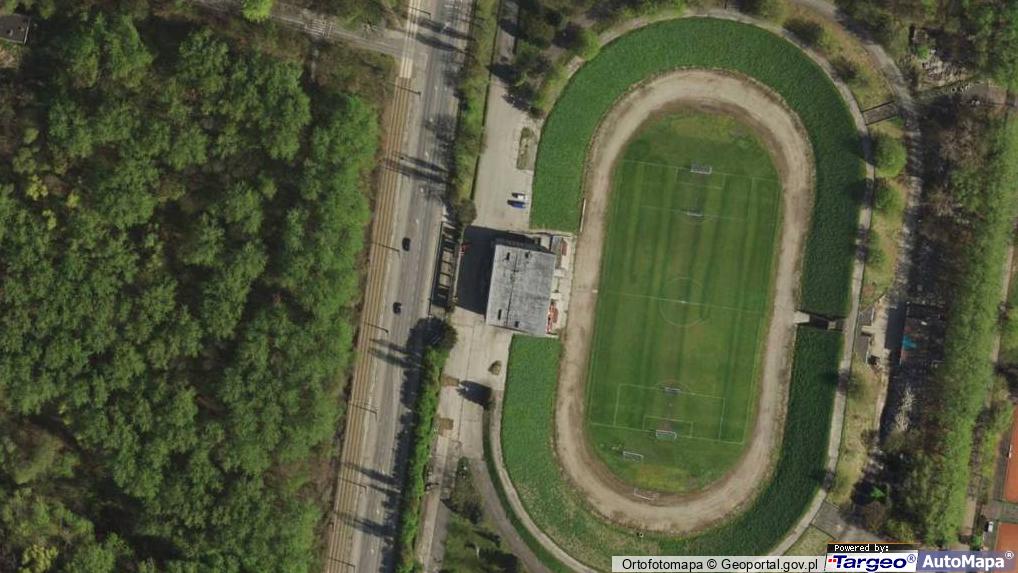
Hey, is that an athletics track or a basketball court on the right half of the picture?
athletics track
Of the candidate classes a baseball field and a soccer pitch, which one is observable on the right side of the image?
soccer pitch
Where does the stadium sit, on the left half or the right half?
right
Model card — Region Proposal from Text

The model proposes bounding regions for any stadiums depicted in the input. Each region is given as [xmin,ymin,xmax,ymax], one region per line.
[500,16,866,573]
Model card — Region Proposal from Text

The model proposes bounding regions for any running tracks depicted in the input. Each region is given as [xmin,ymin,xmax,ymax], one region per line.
[552,68,814,536]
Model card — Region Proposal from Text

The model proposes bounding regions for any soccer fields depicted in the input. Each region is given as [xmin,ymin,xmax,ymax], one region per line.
[581,101,785,504]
